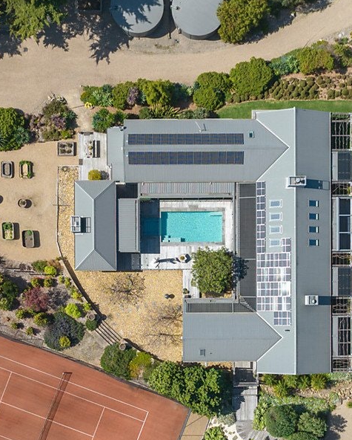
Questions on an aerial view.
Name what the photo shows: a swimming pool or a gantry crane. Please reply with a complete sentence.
The image shows a swimming pool.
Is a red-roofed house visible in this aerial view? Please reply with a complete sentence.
No, I can see no red-roofed house in this picture.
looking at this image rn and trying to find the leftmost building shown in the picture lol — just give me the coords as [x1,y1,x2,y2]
[71,180,140,272]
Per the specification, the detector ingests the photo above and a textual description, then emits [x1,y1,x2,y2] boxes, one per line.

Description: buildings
[71,180,140,272]
[108,104,332,387]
